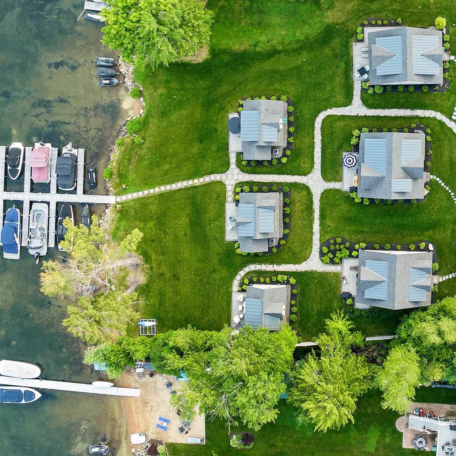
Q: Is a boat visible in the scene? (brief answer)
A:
Yes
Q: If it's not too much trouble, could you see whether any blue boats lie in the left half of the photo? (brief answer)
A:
Yes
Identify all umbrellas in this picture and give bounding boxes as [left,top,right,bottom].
[341,152,359,169]
[226,117,242,132]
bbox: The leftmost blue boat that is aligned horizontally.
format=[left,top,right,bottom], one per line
[0,386,42,403]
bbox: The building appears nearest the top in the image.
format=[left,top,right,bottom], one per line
[368,26,444,84]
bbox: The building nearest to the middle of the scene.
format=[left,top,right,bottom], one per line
[235,193,282,254]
